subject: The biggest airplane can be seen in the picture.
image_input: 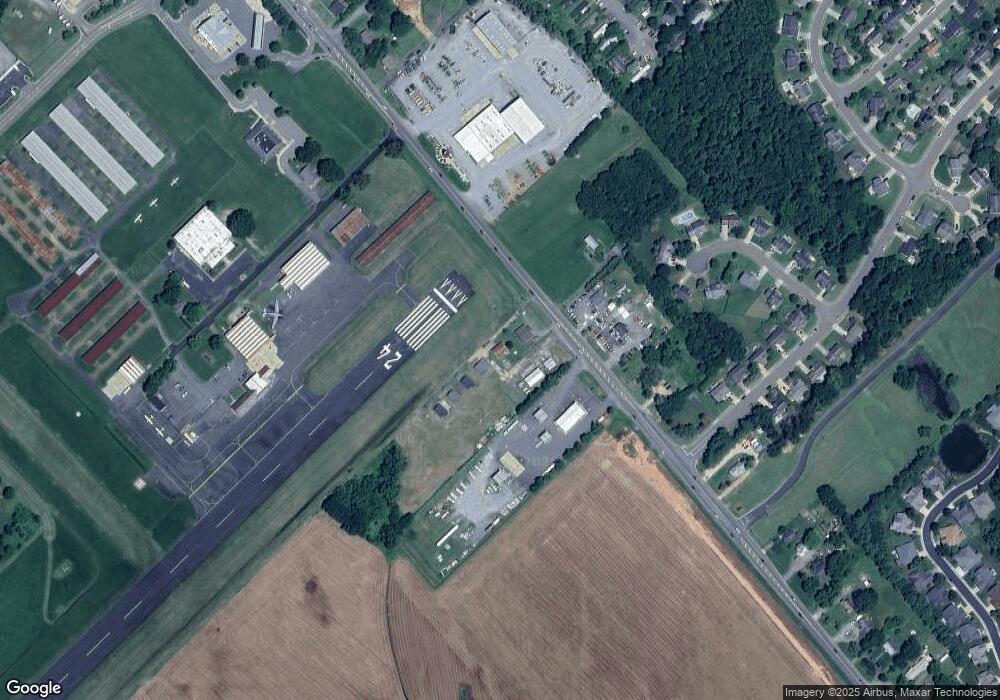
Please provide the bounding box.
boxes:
[265,299,283,329]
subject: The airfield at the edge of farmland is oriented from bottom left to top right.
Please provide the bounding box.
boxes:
[16,185,479,700]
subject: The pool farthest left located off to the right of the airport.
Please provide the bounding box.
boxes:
[672,208,695,227]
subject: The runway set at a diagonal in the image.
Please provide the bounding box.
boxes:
[16,269,479,700]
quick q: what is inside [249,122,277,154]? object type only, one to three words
building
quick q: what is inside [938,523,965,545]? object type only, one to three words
house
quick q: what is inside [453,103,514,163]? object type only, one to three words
building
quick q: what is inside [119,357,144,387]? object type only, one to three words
hangar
